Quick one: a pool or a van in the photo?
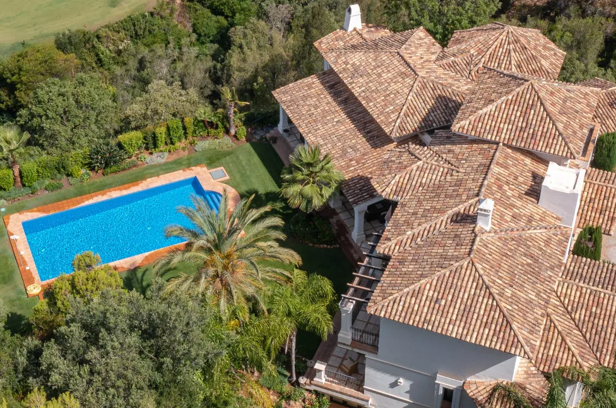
pool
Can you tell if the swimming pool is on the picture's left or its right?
left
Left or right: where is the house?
right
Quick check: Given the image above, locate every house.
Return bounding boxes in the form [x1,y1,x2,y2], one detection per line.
[267,2,616,408]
